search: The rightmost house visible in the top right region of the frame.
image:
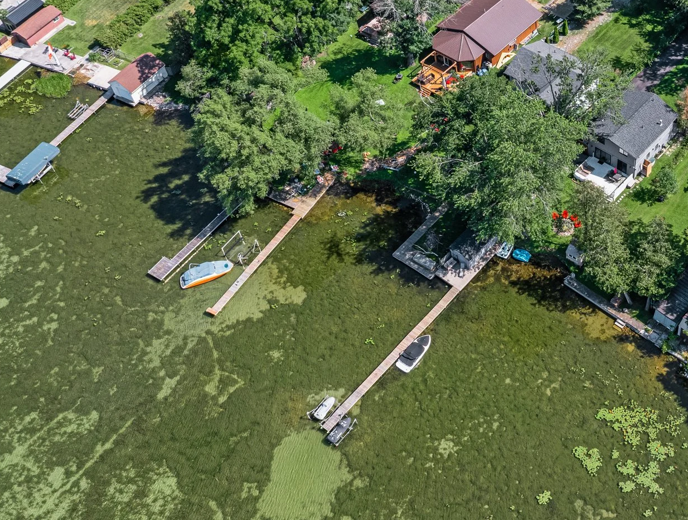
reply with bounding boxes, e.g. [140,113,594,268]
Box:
[589,92,678,175]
